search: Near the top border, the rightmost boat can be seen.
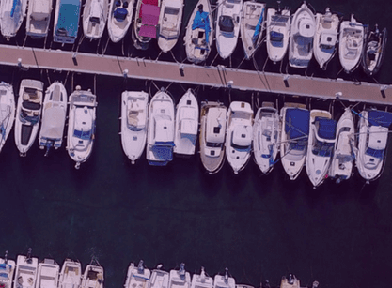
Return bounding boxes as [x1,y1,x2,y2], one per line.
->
[361,10,386,81]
